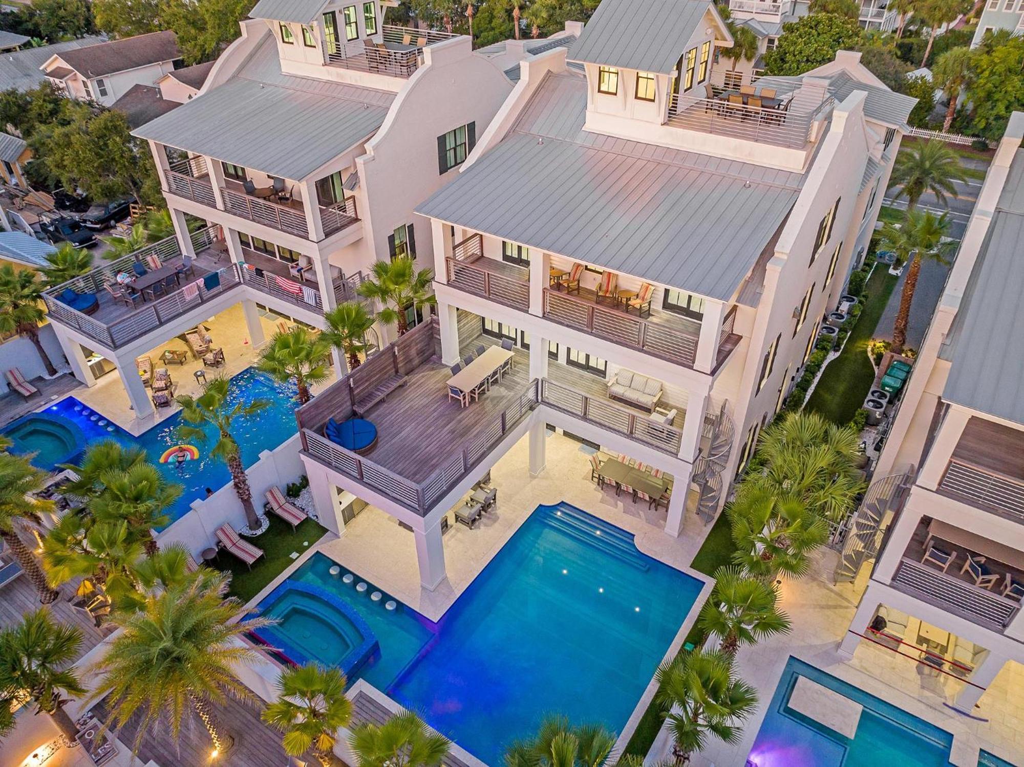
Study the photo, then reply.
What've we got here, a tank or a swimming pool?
swimming pool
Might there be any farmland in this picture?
No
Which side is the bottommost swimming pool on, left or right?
right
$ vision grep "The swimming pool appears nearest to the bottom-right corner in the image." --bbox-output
[743,653,963,767]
